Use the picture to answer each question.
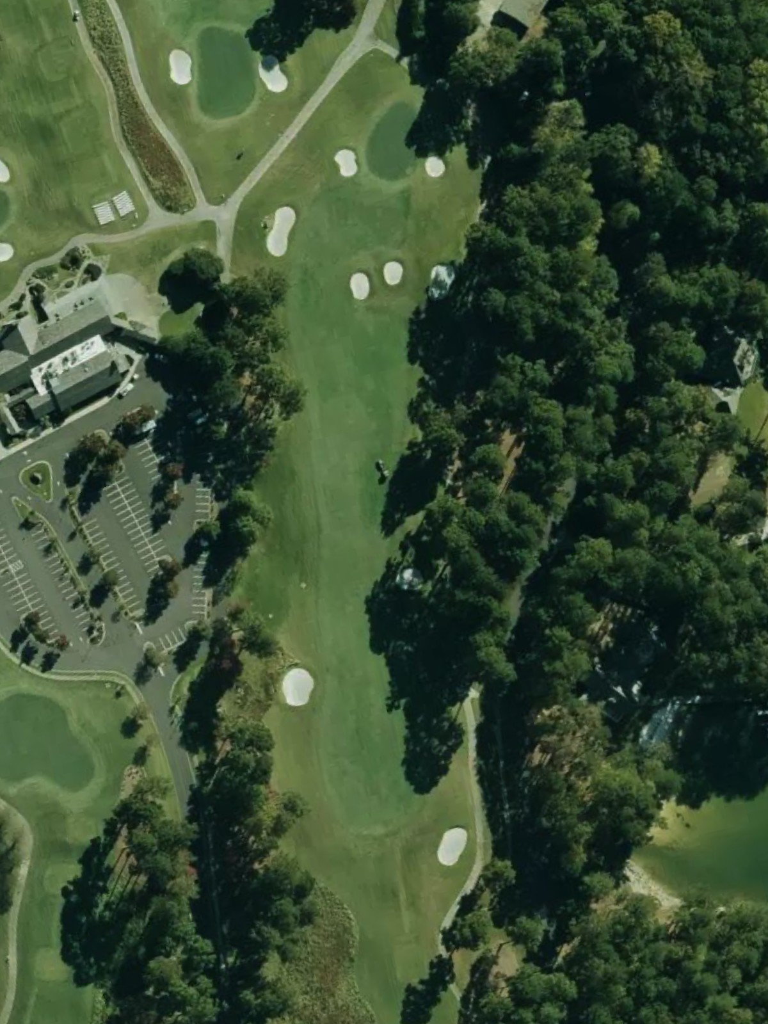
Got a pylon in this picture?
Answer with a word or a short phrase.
No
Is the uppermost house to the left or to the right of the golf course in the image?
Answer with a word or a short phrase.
on the right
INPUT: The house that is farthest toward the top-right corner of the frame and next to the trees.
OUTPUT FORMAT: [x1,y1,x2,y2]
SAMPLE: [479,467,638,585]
[496,0,539,32]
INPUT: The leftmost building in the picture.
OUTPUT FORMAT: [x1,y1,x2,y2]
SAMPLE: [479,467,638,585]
[0,303,157,448]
